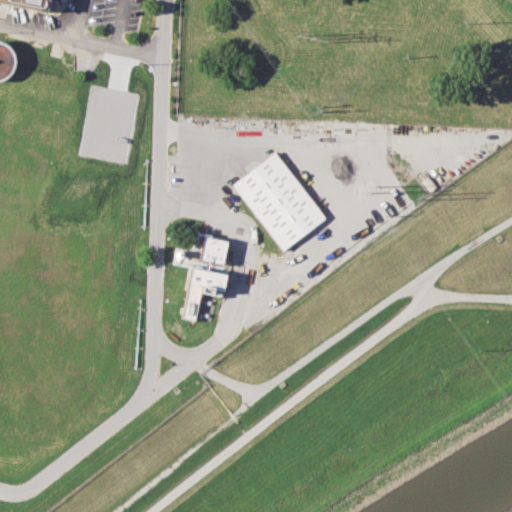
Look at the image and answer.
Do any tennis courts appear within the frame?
No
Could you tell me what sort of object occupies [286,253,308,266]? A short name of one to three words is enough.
vehicle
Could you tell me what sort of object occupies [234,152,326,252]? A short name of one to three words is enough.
building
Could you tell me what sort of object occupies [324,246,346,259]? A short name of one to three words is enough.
vehicle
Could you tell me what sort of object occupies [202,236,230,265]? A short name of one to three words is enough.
building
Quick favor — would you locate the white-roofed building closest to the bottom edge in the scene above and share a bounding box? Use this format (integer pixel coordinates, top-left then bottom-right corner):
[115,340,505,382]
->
[180,269,228,322]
